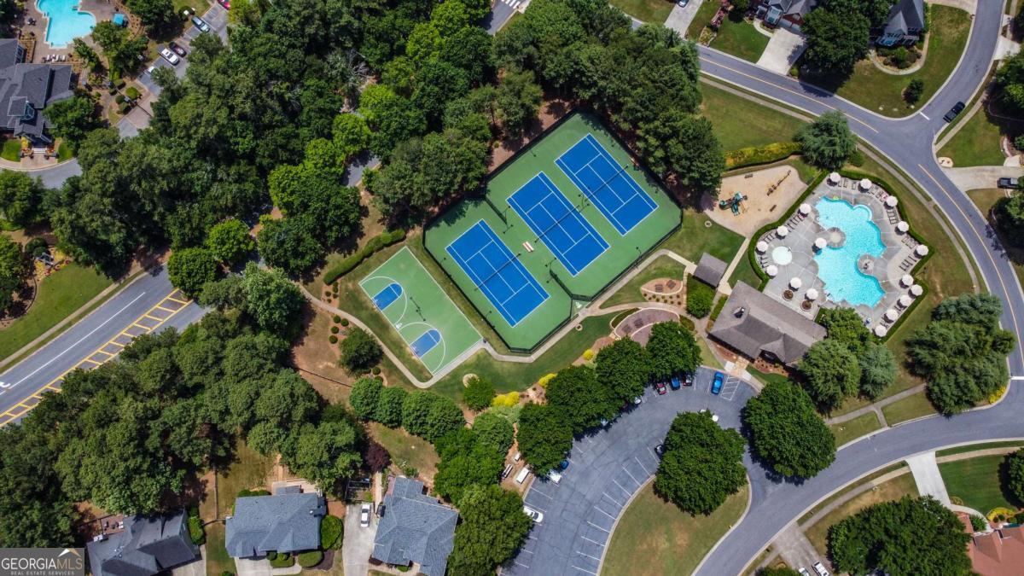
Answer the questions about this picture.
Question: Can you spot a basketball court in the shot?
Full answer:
Yes, there is a basketball court in the image.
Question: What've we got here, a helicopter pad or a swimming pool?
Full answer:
Visible in the photo is a swimming pool.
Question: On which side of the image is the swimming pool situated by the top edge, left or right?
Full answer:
The swimming pool situated by the top edge sits on the left side.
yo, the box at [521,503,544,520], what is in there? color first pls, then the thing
white car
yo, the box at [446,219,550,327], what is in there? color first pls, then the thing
blue tennis court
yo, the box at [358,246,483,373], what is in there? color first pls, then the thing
green basketball court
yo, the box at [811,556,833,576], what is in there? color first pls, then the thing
white vehicle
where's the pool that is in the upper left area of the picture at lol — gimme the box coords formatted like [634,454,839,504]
[35,0,97,50]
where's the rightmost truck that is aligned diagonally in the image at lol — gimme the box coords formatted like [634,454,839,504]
[944,99,965,122]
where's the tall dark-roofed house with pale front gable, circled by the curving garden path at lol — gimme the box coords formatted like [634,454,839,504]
[875,0,928,48]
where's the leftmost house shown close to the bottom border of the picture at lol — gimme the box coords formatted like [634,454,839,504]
[88,509,199,576]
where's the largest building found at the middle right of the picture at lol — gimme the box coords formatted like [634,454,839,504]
[708,280,824,376]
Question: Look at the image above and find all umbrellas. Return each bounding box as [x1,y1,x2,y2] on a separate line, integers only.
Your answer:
[789,278,802,289]
[900,274,914,286]
[885,309,898,321]
[915,244,928,256]
[798,203,811,215]
[756,240,768,253]
[896,221,909,233]
[765,265,778,277]
[898,295,911,307]
[805,288,819,300]
[814,237,827,249]
[776,225,788,237]
[859,178,872,190]
[885,195,898,207]
[873,325,887,337]
[829,172,841,183]
[909,284,923,297]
